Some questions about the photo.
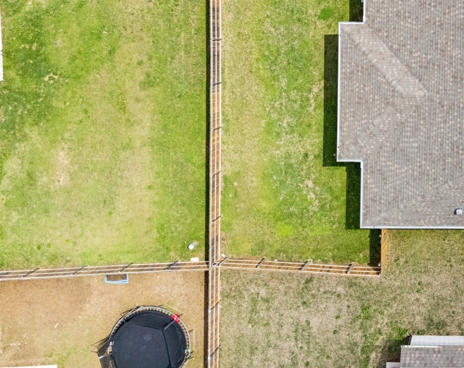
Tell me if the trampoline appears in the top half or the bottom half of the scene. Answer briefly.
bottom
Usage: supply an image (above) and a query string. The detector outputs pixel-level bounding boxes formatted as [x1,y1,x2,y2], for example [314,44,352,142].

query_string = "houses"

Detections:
[400,335,464,368]
[334,0,464,231]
